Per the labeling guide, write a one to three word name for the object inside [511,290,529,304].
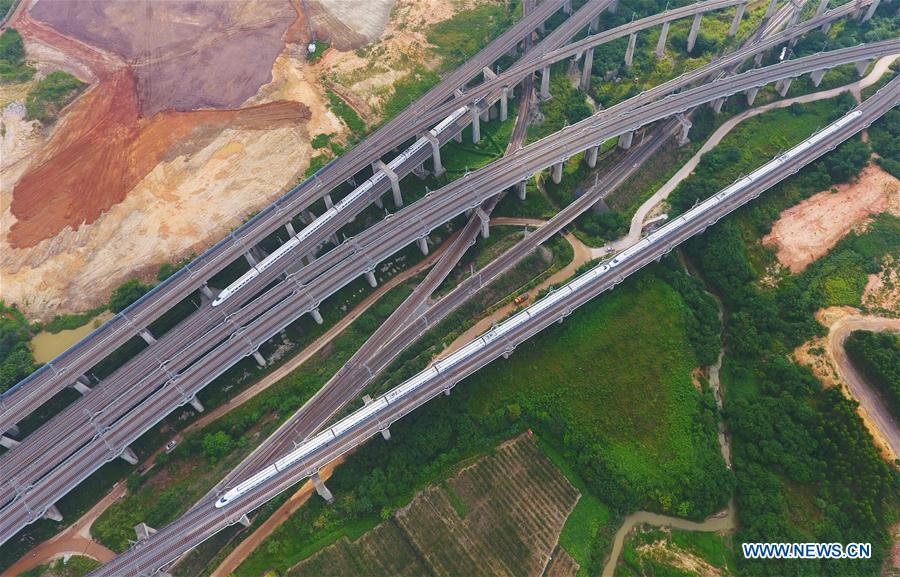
vehicle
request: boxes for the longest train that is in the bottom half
[217,265,611,505]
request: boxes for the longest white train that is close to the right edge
[611,107,863,266]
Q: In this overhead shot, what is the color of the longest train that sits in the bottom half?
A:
white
